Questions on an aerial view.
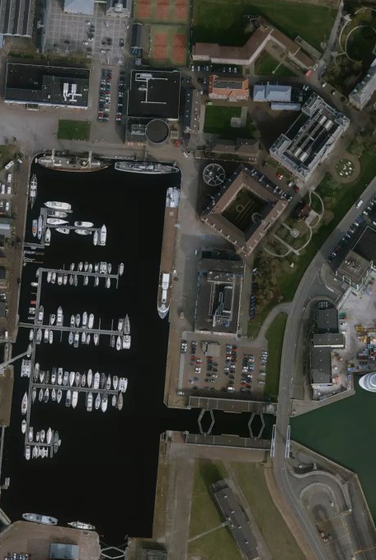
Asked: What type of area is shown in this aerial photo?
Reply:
port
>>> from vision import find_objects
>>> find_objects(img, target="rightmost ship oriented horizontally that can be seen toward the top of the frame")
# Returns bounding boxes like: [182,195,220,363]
[114,160,179,173]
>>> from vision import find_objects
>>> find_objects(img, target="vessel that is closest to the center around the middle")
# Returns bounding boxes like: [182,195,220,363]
[158,272,172,319]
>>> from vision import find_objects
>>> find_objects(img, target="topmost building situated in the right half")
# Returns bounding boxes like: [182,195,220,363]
[194,15,320,73]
